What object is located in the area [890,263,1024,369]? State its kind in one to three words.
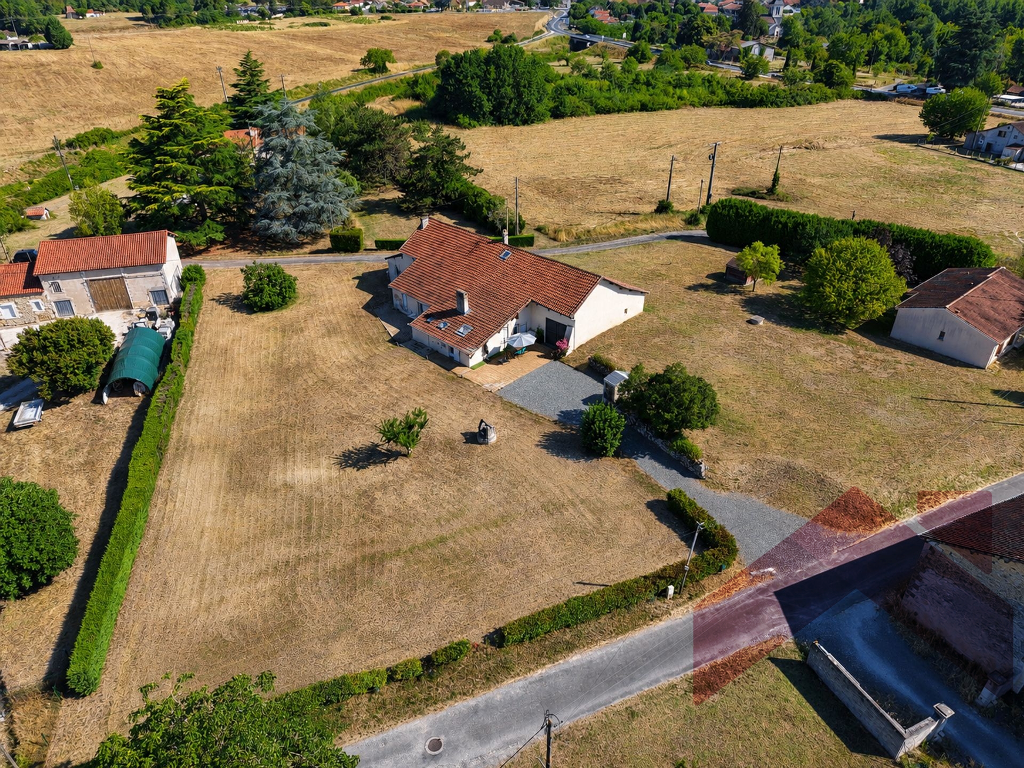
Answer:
house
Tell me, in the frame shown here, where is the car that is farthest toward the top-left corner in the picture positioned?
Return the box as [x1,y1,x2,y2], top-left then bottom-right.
[0,245,39,266]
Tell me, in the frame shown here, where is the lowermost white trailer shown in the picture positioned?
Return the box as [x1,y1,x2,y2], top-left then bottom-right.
[7,402,42,429]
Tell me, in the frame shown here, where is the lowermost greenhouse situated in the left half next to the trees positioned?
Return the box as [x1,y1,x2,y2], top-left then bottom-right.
[99,331,169,404]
